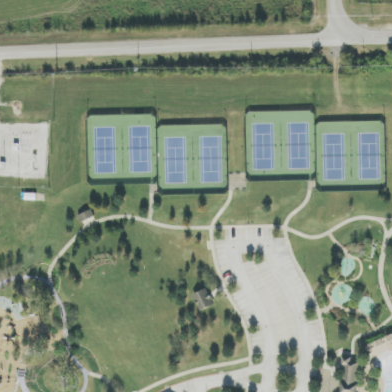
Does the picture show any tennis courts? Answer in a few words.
Yes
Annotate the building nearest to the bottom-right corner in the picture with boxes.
[338,356,358,392]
